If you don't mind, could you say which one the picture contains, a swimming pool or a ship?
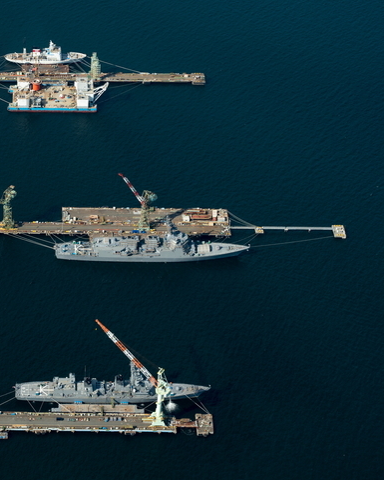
ship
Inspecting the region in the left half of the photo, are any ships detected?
Yes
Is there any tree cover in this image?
No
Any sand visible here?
No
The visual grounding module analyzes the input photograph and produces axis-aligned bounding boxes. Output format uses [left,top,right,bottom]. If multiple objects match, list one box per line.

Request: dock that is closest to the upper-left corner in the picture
[0,70,205,87]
